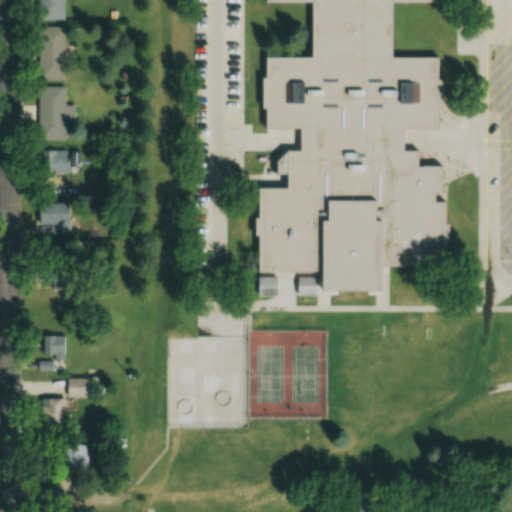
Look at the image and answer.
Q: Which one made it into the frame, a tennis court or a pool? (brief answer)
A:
tennis court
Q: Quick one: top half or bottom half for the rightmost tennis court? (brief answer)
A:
bottom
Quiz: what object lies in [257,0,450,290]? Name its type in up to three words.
building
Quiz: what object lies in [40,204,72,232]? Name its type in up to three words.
house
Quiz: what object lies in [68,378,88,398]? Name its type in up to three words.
building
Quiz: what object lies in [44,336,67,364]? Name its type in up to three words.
house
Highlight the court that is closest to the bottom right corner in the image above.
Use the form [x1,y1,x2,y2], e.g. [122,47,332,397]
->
[248,331,328,418]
